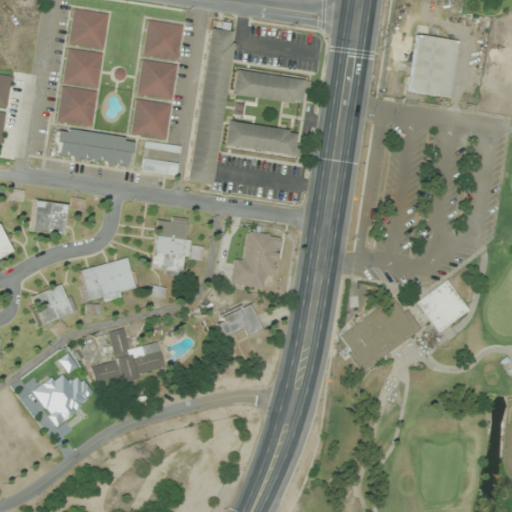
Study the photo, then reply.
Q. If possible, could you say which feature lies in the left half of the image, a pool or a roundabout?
pool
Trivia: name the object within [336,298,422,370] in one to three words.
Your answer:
building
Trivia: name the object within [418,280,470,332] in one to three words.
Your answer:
barn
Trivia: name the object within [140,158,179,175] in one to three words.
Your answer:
shed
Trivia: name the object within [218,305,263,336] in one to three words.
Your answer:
house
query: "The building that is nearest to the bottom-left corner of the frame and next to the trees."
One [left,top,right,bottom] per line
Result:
[32,374,92,426]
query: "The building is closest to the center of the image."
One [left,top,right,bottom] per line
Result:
[230,233,282,288]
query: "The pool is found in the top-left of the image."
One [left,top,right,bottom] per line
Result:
[101,92,126,122]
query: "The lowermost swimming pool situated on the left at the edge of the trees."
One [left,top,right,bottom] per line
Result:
[162,333,196,364]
